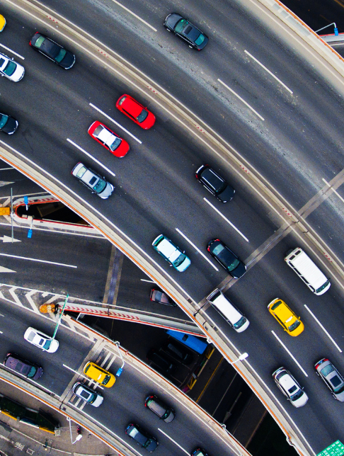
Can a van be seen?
Yes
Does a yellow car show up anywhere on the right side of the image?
Yes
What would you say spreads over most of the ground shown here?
paved ground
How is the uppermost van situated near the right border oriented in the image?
on a diagonal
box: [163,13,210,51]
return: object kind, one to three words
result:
car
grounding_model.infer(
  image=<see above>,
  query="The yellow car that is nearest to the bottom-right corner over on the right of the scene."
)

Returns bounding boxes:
[267,297,302,336]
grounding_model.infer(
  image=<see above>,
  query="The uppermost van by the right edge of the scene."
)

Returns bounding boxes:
[284,246,331,296]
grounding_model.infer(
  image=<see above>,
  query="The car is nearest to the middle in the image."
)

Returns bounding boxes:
[150,232,191,271]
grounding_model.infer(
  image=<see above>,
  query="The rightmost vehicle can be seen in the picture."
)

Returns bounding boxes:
[313,356,344,401]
